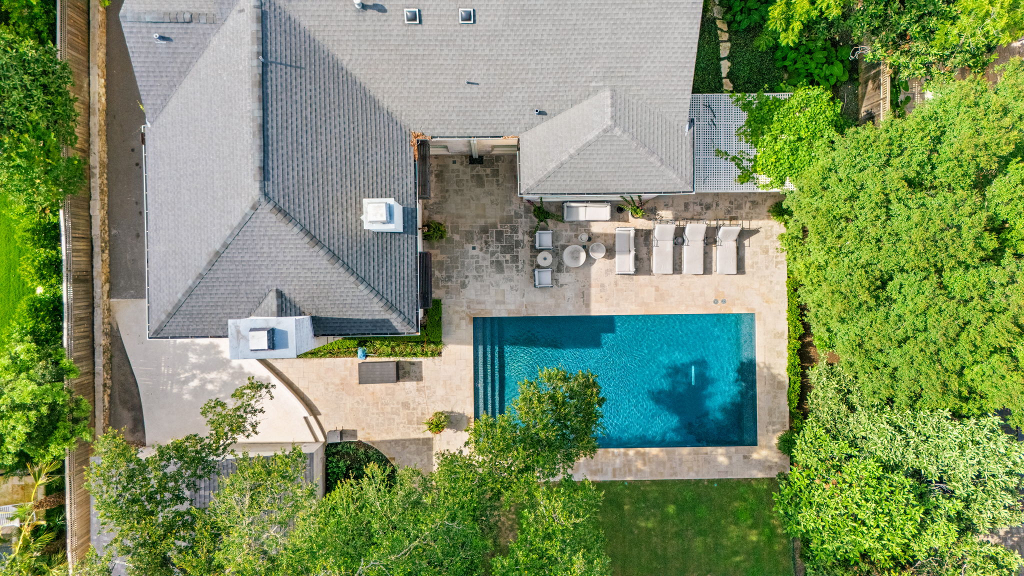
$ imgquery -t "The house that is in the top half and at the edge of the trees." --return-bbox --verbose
[118,0,703,358]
